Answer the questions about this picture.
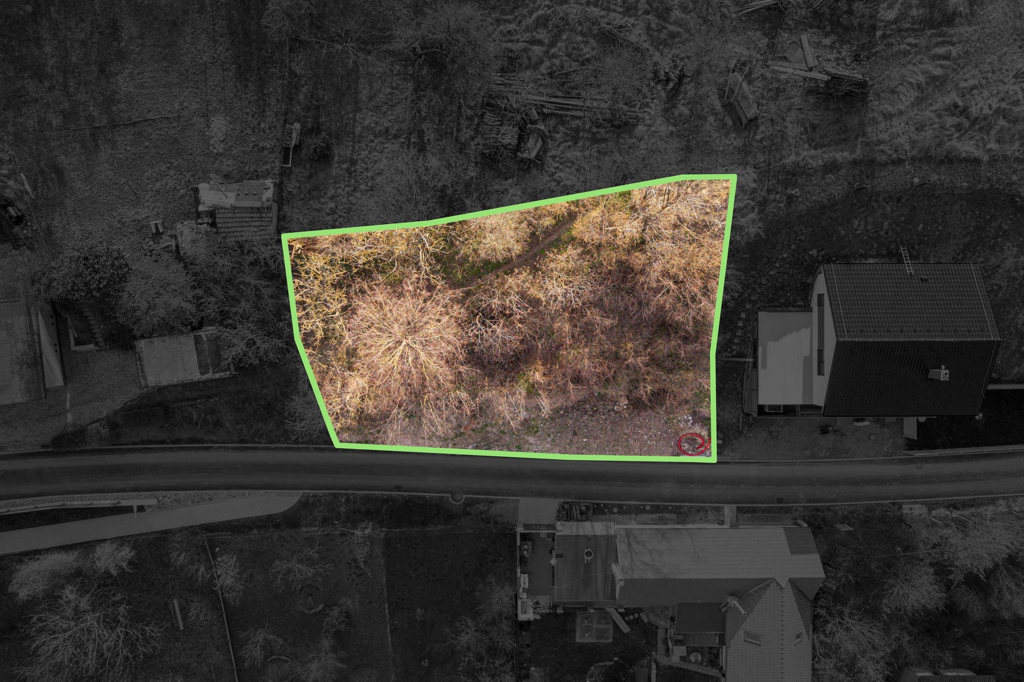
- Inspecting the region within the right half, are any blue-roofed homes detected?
No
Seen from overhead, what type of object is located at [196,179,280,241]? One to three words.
shed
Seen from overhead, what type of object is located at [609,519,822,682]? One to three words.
house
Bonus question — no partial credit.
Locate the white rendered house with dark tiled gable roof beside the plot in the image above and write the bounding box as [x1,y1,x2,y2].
[741,261,1013,418]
